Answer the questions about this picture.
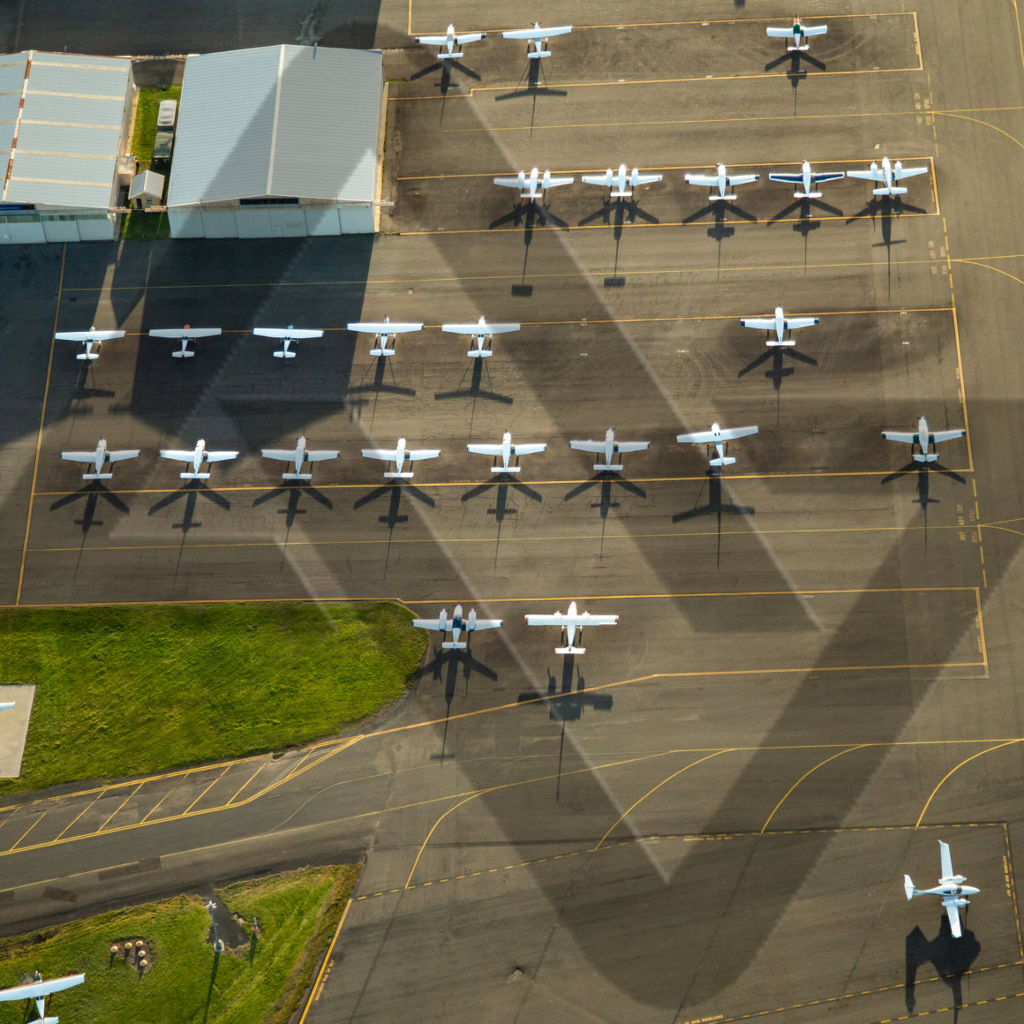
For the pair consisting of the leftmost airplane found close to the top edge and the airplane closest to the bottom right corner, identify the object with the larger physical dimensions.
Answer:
the airplane closest to the bottom right corner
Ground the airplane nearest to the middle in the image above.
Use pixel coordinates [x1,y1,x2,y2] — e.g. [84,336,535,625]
[468,428,546,473]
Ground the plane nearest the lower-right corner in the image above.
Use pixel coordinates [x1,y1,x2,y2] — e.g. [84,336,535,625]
[910,839,982,936]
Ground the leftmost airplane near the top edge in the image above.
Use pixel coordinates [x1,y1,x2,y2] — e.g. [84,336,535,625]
[415,23,486,58]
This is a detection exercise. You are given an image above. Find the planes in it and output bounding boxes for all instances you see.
[882,415,966,461]
[685,162,760,200]
[502,24,572,56]
[525,601,618,654]
[494,167,574,205]
[847,156,928,196]
[769,160,845,197]
[0,703,15,713]
[149,320,222,359]
[582,164,662,202]
[676,422,759,465]
[910,839,982,936]
[55,325,125,361]
[412,605,502,653]
[160,435,239,479]
[254,322,324,359]
[347,314,423,355]
[361,434,440,478]
[468,428,546,473]
[0,969,85,1024]
[61,434,140,479]
[740,303,819,345]
[415,23,486,58]
[570,426,649,470]
[261,434,339,478]
[442,316,520,356]
[766,18,827,48]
